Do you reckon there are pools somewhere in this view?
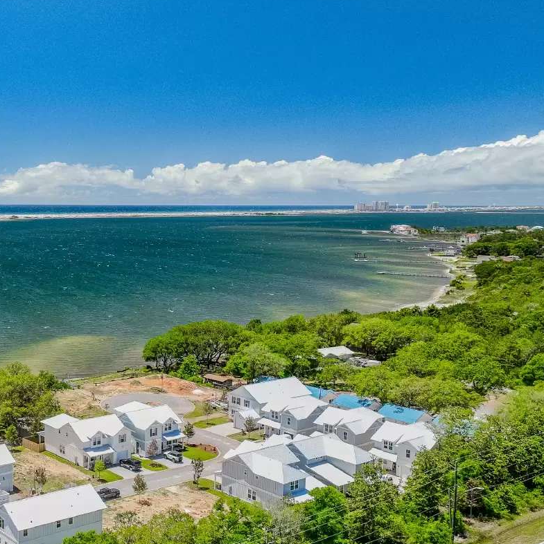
No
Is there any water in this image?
Yes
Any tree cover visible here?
Yes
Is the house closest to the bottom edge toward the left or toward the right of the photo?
left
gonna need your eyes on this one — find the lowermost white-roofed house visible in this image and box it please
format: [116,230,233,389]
[0,482,107,544]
